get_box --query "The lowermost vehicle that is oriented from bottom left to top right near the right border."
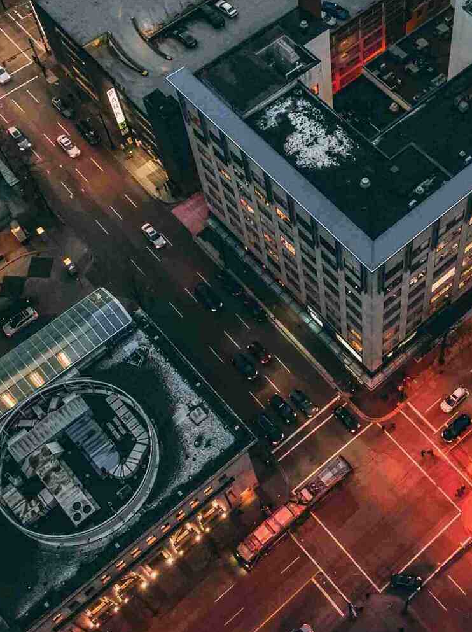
[439,412,472,445]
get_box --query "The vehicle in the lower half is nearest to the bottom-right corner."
[387,571,425,593]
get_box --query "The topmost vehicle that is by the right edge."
[438,386,472,416]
